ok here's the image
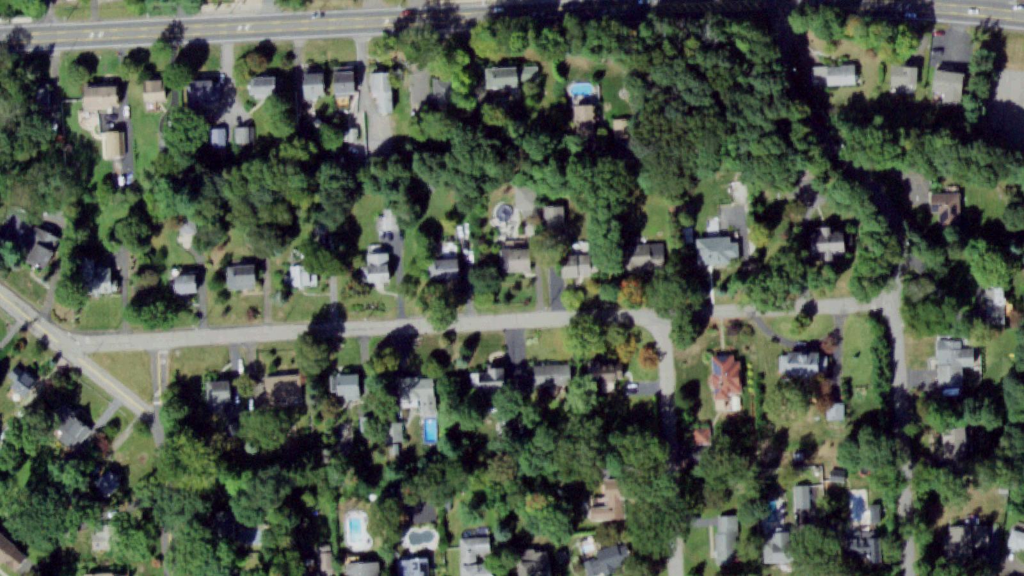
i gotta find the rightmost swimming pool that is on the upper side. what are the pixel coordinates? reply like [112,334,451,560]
[570,83,594,96]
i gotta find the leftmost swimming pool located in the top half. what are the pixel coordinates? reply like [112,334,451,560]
[495,203,514,222]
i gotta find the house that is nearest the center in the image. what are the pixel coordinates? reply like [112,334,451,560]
[502,241,531,275]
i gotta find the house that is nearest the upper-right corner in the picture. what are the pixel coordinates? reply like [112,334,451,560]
[932,71,964,101]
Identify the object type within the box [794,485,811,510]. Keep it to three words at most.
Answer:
shed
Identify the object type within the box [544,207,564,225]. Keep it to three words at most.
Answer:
building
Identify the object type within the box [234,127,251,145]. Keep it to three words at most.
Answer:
building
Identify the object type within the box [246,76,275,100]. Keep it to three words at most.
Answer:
house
